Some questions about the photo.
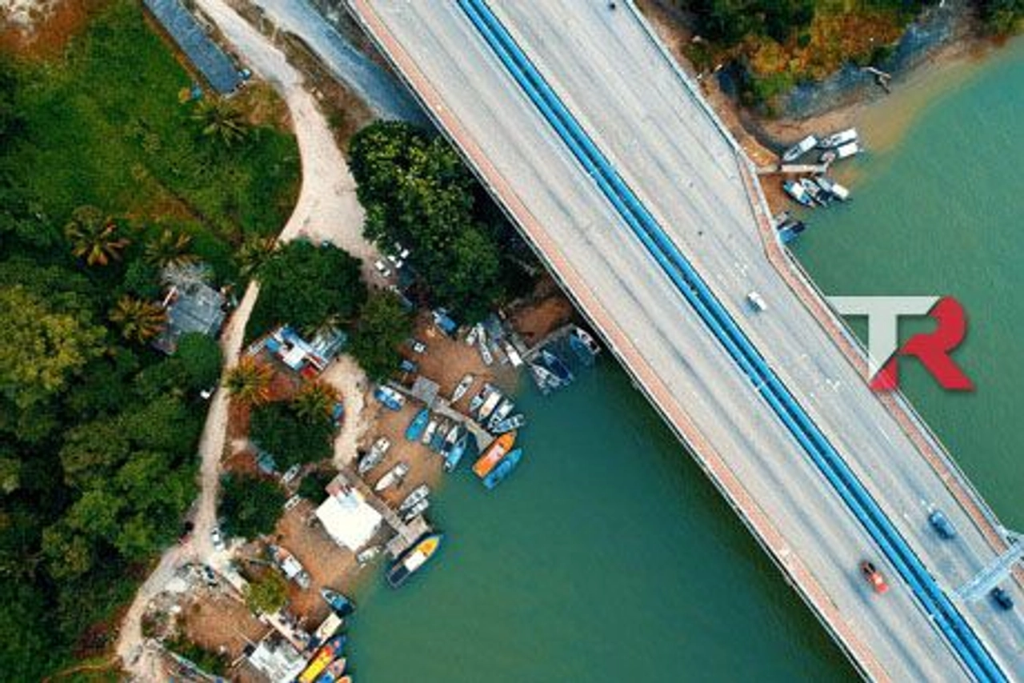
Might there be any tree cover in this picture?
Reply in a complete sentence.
Yes, some tree cover is visible.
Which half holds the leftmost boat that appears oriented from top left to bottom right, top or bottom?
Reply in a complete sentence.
Seen from above, the leftmost boat that appears oriented from top left to bottom right lies in the bottom half of the view.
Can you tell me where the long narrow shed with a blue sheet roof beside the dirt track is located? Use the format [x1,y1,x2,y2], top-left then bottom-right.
[145,0,247,97]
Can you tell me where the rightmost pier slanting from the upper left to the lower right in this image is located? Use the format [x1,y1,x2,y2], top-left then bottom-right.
[390,376,497,453]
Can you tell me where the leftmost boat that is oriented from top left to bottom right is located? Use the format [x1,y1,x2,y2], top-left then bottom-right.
[268,543,316,595]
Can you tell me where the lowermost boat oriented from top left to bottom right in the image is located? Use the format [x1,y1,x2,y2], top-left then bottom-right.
[321,588,360,620]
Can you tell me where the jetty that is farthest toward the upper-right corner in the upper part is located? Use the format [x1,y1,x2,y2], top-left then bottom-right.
[756,156,833,175]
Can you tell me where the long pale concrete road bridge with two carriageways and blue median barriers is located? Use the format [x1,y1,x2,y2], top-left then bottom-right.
[338,0,1024,683]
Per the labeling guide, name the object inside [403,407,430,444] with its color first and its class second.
blue boat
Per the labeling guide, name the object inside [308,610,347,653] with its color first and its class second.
white boat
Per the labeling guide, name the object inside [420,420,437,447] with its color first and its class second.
white boat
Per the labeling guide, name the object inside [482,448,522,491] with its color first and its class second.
blue boat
